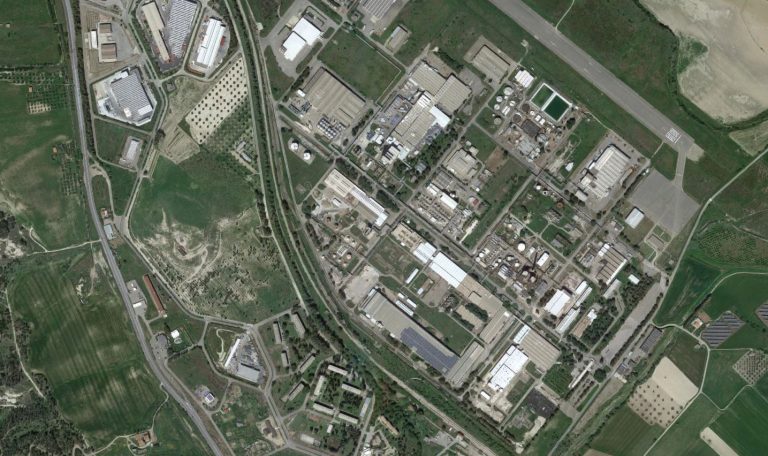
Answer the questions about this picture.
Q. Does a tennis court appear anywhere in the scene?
No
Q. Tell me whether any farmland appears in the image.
Yes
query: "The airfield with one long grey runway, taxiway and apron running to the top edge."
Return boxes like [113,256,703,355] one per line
[489,0,705,236]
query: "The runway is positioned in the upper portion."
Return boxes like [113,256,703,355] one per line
[494,0,693,151]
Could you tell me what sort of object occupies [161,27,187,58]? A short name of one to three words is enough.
building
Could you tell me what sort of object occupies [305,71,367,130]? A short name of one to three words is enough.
building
